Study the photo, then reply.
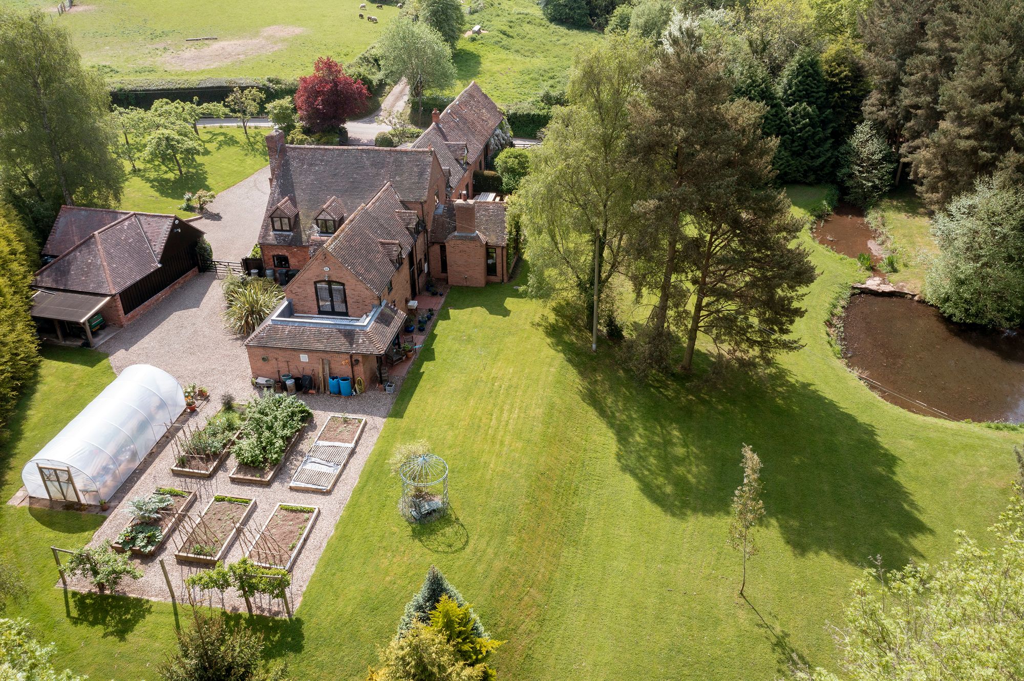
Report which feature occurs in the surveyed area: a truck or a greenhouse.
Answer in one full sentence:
The image shows a greenhouse.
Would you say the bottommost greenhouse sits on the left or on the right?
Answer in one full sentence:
The bottommost greenhouse sits on the left side.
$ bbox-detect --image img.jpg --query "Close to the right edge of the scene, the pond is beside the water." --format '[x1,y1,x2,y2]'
[841,296,1024,422]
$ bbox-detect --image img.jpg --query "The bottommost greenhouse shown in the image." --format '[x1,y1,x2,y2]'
[20,370,184,503]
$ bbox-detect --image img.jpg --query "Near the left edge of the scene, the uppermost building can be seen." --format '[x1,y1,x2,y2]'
[29,203,207,348]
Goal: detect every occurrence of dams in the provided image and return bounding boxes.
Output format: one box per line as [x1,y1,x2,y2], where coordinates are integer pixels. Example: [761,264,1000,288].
[851,276,921,301]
